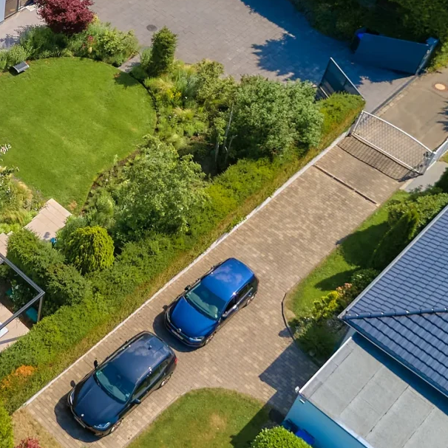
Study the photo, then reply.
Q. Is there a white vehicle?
No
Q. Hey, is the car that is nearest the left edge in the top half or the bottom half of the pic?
bottom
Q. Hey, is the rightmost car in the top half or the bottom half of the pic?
bottom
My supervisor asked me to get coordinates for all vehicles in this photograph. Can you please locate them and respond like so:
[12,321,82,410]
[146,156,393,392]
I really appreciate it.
[63,330,181,440]
[154,257,263,354]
